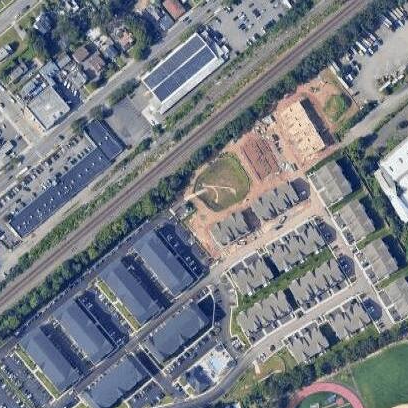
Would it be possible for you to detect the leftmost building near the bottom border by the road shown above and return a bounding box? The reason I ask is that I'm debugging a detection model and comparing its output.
[20,326,82,394]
